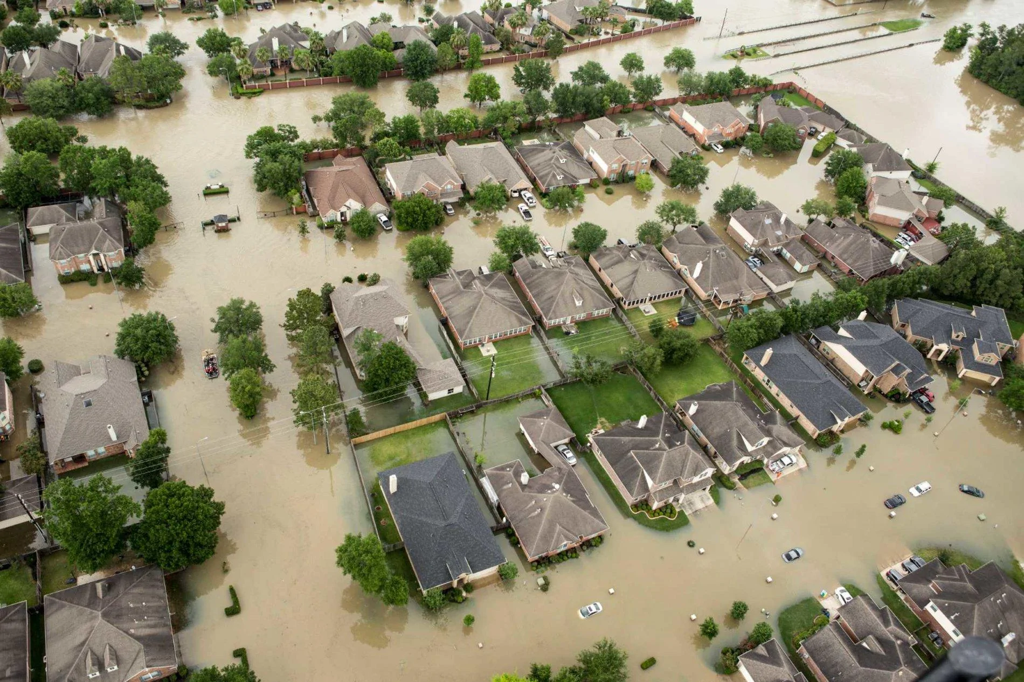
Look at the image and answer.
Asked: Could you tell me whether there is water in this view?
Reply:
Yes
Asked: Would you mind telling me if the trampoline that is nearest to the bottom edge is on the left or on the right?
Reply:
right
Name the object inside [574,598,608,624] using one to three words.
car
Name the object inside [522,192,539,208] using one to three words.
vehicle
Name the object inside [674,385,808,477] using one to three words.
house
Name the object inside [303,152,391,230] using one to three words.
house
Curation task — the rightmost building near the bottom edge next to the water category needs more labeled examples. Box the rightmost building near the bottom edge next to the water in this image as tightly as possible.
[892,553,1024,671]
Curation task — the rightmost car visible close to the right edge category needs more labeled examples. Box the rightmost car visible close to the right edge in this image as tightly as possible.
[956,483,987,501]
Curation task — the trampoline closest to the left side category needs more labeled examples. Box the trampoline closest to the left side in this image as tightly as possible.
[674,304,700,325]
